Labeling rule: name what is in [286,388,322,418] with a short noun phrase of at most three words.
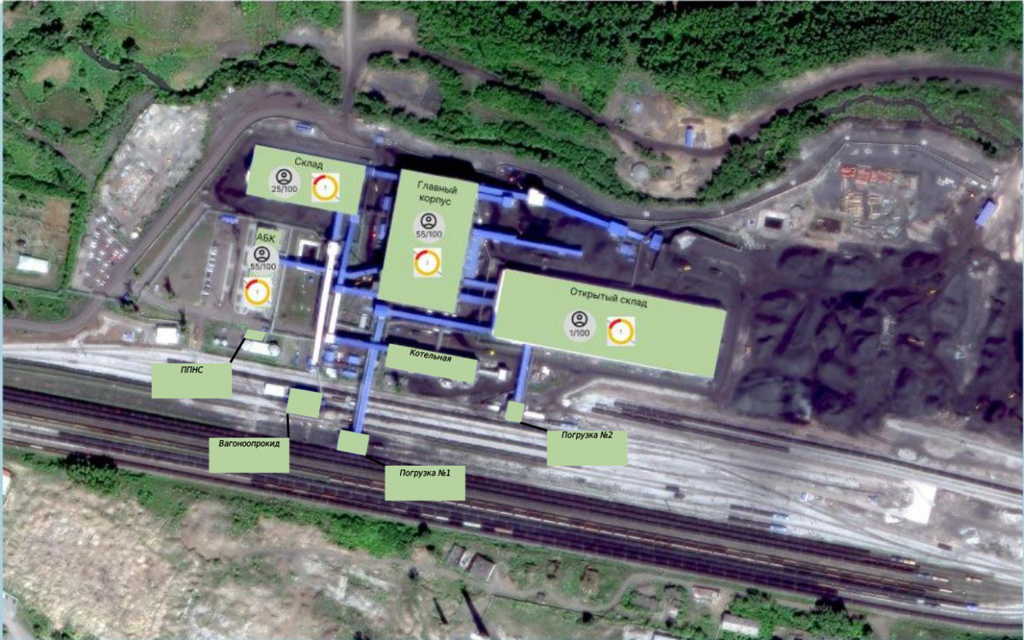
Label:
building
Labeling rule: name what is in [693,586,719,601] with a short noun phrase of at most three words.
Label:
house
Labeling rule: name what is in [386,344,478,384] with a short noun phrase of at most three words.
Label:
building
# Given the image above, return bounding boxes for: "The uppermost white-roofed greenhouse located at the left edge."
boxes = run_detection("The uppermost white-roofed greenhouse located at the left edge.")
[17,256,49,273]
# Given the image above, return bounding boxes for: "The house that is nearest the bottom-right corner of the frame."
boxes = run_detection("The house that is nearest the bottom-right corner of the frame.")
[721,611,759,635]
